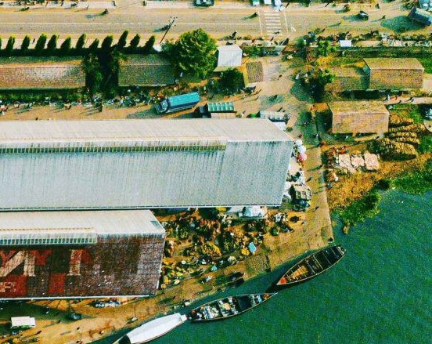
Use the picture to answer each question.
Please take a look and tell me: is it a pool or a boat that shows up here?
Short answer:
boat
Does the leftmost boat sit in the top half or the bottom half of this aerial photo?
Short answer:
bottom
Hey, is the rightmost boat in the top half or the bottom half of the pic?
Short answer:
bottom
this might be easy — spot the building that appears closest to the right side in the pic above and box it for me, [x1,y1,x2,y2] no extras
[358,58,424,99]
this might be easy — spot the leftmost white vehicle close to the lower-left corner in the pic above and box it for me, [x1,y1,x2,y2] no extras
[10,314,39,330]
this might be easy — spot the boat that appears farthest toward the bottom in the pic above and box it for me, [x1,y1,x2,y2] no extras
[113,310,191,344]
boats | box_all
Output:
[113,310,191,344]
[189,290,280,316]
[274,244,348,287]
